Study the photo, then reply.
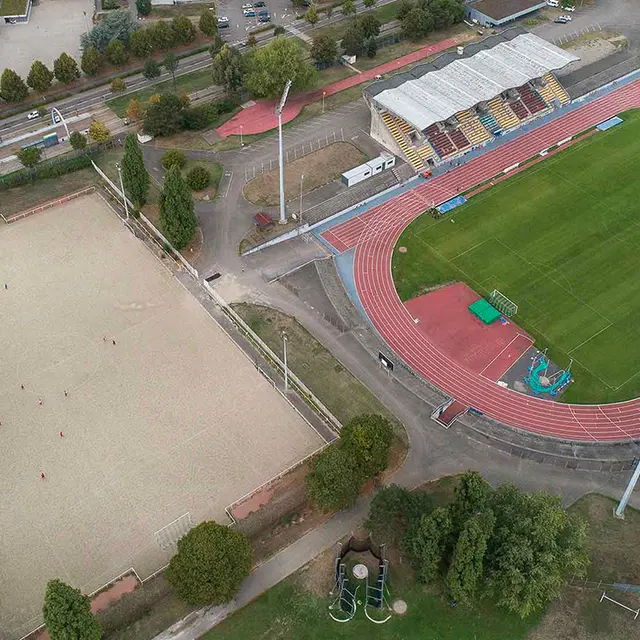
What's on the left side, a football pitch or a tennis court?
football pitch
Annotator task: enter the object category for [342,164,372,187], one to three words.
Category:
building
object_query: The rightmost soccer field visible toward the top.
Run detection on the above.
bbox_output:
[391,105,640,406]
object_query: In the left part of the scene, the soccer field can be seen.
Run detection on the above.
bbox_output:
[0,183,322,640]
